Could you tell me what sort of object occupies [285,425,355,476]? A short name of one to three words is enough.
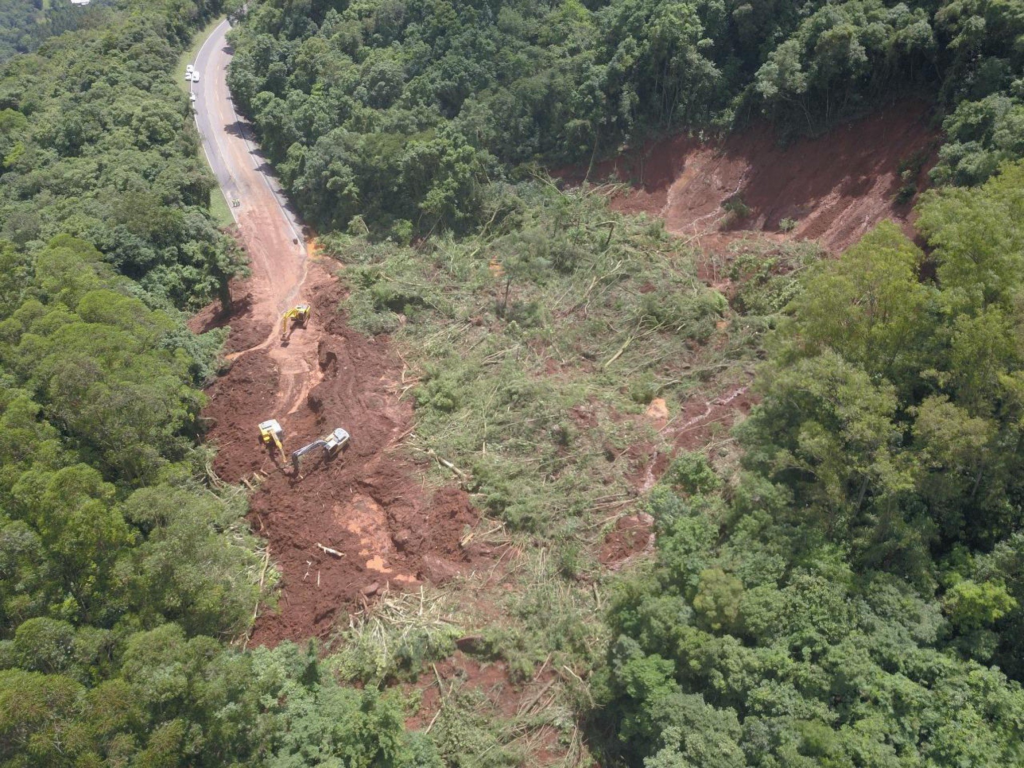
work vehicle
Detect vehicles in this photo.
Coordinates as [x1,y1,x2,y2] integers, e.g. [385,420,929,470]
[187,92,196,100]
[183,71,191,81]
[190,71,199,80]
[258,414,287,471]
[278,307,313,342]
[285,425,355,476]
